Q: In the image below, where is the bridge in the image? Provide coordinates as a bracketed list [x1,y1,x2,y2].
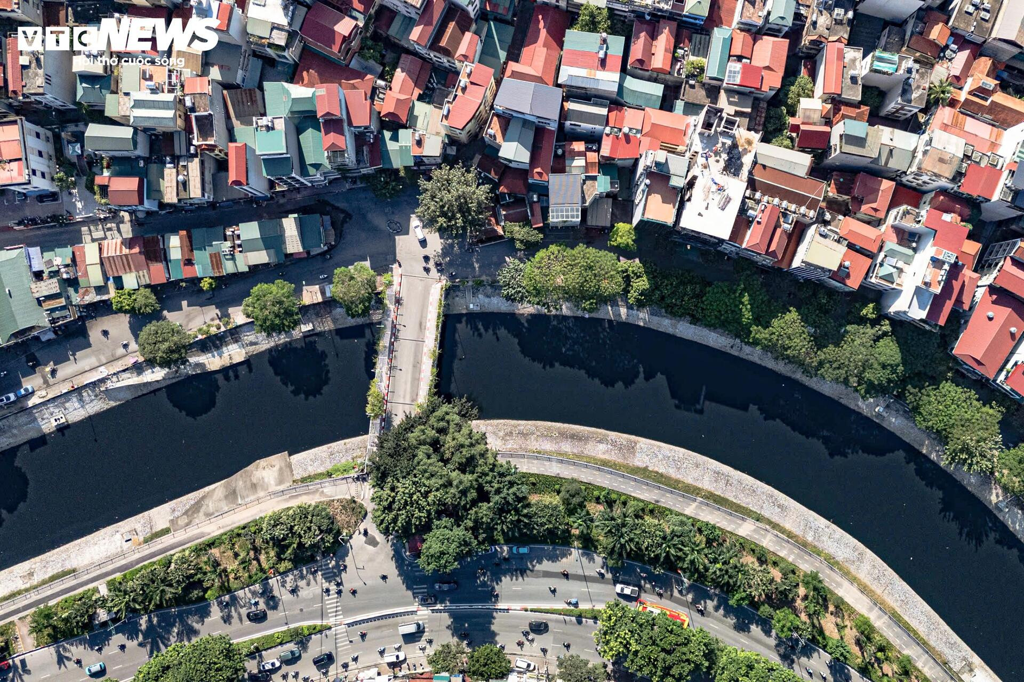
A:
[366,272,445,476]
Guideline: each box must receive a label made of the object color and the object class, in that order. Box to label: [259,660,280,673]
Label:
white vehicle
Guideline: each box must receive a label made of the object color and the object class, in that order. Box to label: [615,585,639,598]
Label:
white vehicle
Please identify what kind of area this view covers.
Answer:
residential area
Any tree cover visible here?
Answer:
Yes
